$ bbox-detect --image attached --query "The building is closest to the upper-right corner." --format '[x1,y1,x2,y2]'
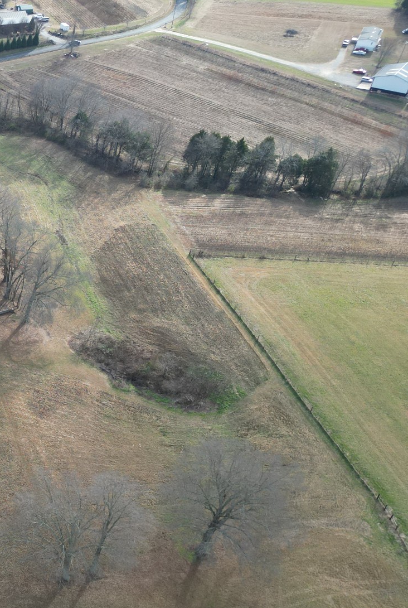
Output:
[349,27,383,55]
